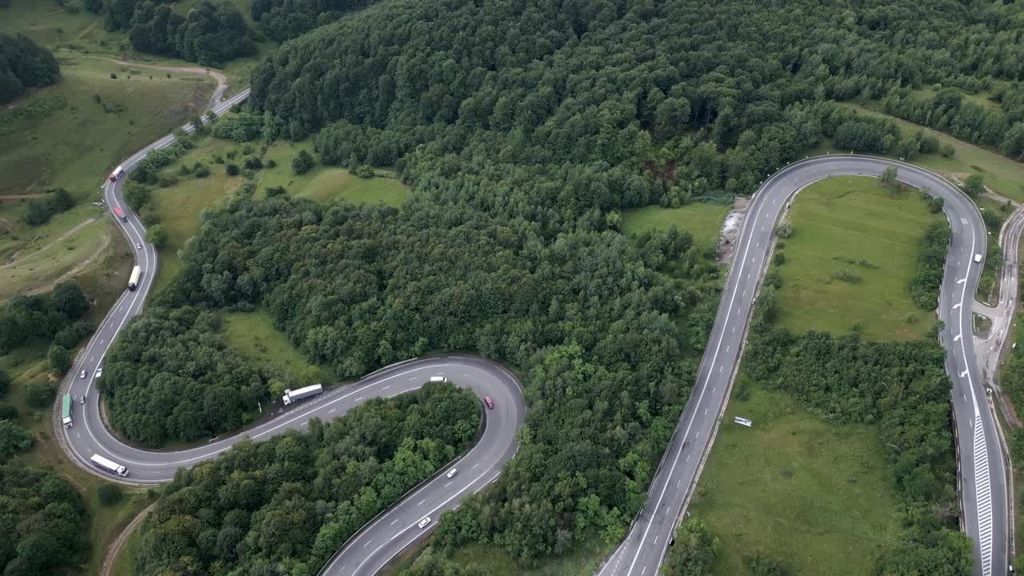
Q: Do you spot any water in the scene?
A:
No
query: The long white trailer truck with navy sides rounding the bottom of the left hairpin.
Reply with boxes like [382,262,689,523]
[86,452,131,477]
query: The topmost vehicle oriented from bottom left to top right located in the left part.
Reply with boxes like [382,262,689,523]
[109,166,125,183]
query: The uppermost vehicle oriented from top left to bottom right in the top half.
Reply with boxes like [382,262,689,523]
[113,205,128,223]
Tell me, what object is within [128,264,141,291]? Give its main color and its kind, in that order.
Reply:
white vehicle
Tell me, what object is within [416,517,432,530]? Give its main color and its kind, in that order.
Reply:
white vehicle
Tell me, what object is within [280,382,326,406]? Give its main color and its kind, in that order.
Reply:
white truck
